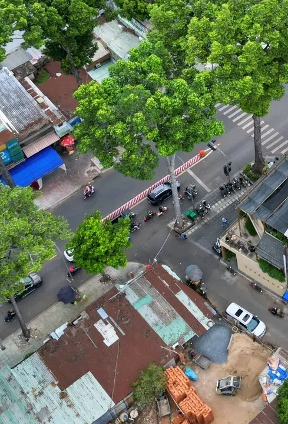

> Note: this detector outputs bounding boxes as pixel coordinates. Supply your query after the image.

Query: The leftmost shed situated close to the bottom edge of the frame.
[0,264,217,424]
